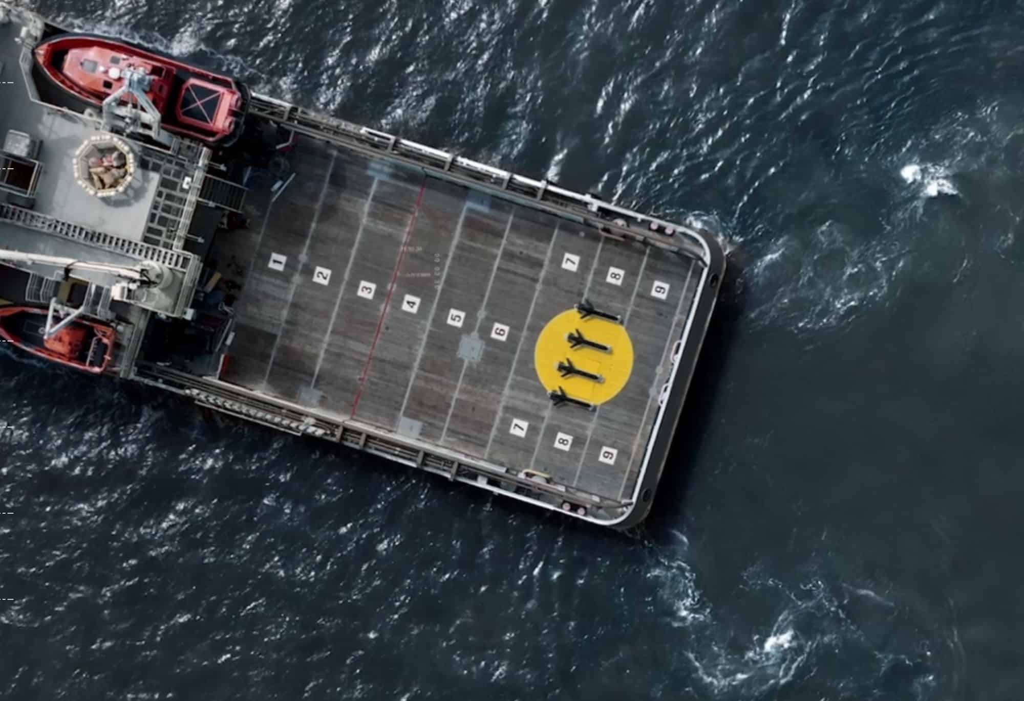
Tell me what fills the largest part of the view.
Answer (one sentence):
Most of the picture is covered by water.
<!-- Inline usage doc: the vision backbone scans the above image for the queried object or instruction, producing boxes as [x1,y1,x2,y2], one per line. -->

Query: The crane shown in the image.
[0,248,187,301]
